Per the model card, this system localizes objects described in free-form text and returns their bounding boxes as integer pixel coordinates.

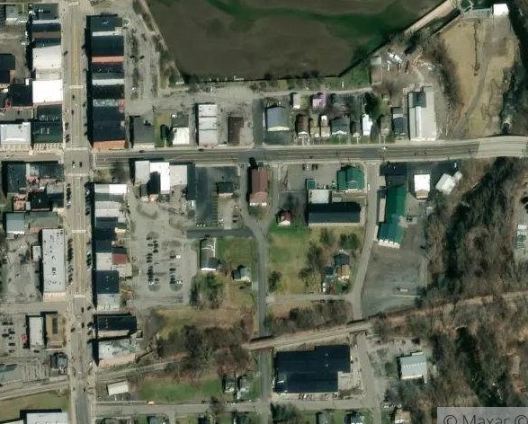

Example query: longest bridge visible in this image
[481,136,526,158]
